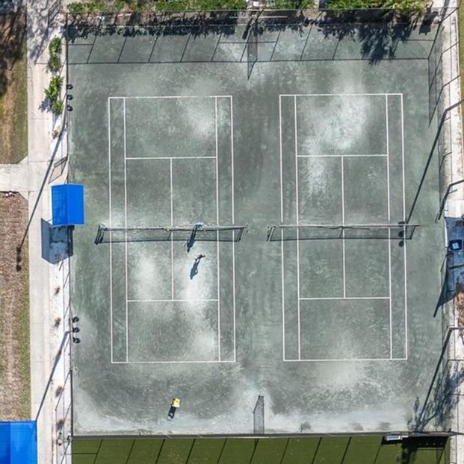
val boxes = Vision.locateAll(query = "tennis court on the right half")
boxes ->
[256,22,449,433]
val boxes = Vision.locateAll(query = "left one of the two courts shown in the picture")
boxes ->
[68,23,260,434]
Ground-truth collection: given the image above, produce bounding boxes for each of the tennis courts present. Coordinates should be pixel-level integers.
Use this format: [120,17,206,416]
[256,22,449,433]
[68,23,260,434]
